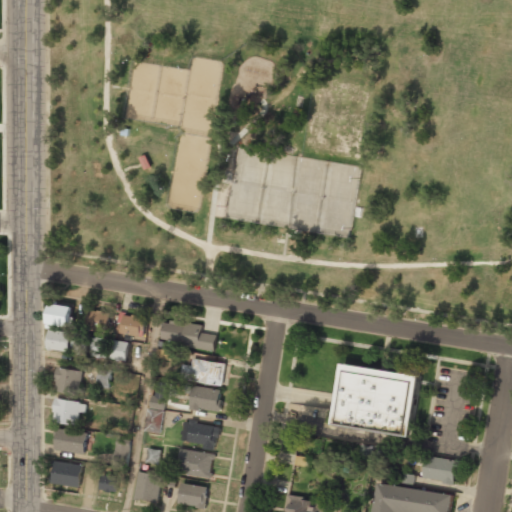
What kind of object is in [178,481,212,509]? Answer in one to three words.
house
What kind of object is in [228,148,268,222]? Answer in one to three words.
tennis court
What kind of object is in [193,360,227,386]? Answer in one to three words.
house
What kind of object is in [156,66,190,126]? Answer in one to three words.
sports court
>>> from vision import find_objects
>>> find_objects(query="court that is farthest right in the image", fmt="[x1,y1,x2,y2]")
[320,162,360,236]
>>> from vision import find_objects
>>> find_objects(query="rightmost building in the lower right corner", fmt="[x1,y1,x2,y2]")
[422,456,458,485]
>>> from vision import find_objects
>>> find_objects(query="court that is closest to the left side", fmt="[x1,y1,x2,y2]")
[129,63,160,122]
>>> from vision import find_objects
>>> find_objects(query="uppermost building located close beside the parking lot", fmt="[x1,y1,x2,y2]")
[328,364,422,438]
